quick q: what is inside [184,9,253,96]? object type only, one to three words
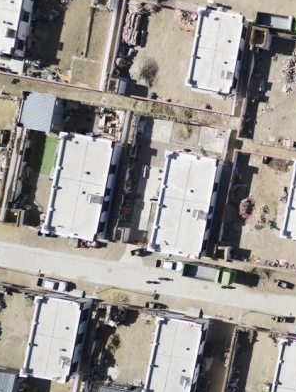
house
